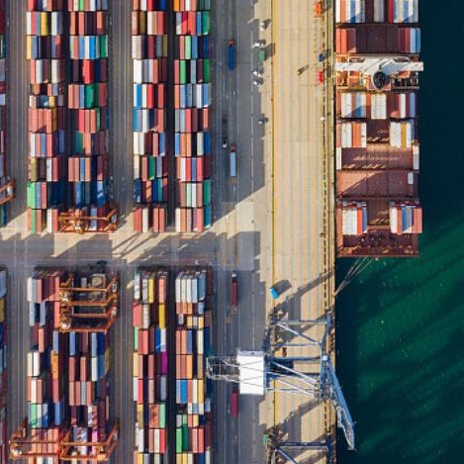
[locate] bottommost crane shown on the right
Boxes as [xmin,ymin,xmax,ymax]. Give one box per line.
[261,414,329,464]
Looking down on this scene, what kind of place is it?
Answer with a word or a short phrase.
port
